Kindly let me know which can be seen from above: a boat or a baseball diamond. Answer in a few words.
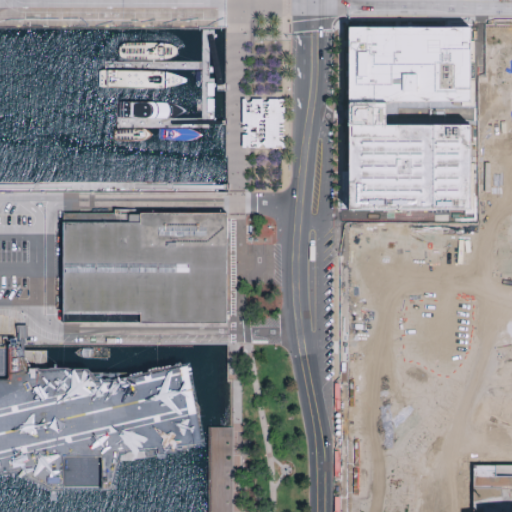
boat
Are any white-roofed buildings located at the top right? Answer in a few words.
Yes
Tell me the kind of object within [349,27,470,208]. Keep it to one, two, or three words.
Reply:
building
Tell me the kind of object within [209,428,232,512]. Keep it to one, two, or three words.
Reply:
pier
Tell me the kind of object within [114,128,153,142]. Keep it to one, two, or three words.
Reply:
boat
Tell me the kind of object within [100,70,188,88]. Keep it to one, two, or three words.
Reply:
boat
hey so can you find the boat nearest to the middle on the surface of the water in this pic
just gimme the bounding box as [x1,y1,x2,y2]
[160,128,202,142]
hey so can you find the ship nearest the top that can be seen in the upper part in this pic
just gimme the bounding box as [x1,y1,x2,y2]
[119,42,178,60]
